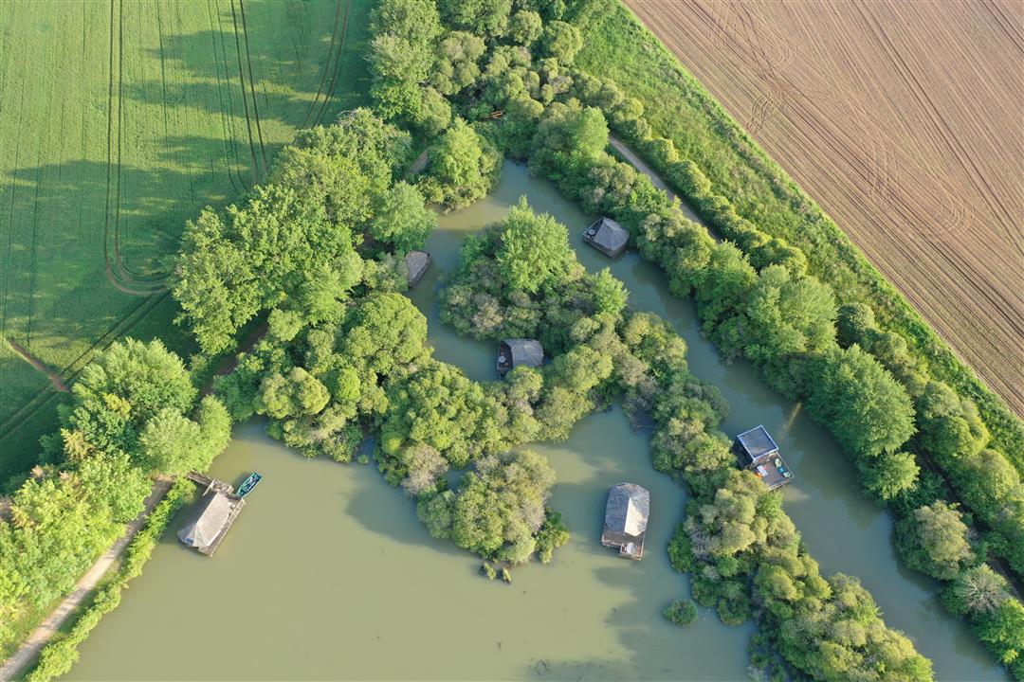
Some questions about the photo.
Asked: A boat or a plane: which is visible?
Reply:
boat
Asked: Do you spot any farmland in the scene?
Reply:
Yes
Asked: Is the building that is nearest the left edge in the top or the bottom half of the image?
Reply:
bottom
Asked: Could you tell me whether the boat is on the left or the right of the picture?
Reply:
left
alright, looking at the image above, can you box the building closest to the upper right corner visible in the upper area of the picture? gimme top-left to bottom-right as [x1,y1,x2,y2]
[582,219,632,262]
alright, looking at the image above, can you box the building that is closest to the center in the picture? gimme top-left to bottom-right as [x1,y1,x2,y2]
[494,340,546,380]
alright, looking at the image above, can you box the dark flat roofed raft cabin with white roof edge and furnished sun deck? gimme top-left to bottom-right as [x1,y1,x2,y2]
[733,425,797,495]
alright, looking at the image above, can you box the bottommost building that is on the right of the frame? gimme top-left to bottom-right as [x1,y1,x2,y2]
[602,484,645,562]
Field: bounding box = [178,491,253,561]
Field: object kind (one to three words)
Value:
building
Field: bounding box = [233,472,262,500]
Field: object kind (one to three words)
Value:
boat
